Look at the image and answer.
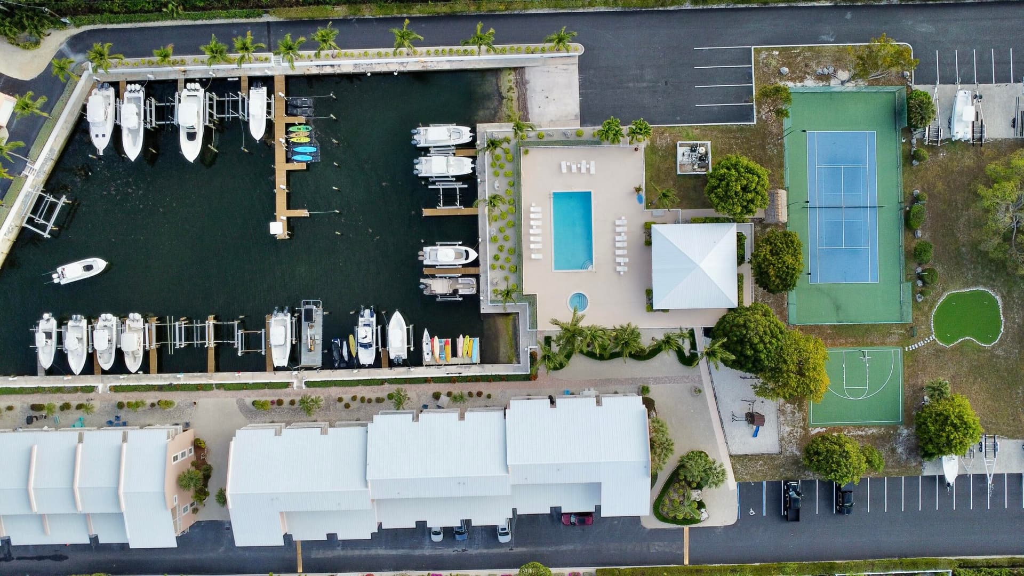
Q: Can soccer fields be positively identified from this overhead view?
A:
No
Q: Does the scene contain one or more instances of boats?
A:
Yes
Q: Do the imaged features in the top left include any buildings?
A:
Yes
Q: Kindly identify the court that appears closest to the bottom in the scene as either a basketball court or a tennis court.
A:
basketball court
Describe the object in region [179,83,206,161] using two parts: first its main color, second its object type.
white boat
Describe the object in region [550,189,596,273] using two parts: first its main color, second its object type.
blue swimming pool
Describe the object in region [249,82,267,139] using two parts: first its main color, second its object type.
white boat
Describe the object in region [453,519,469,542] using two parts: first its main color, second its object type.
blue vehicle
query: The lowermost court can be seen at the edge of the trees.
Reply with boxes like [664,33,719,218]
[810,347,904,426]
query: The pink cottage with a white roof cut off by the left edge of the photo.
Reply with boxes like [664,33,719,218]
[0,90,28,131]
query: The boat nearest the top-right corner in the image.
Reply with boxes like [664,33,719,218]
[955,91,981,144]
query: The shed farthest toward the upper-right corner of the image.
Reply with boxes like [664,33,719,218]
[762,189,787,223]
